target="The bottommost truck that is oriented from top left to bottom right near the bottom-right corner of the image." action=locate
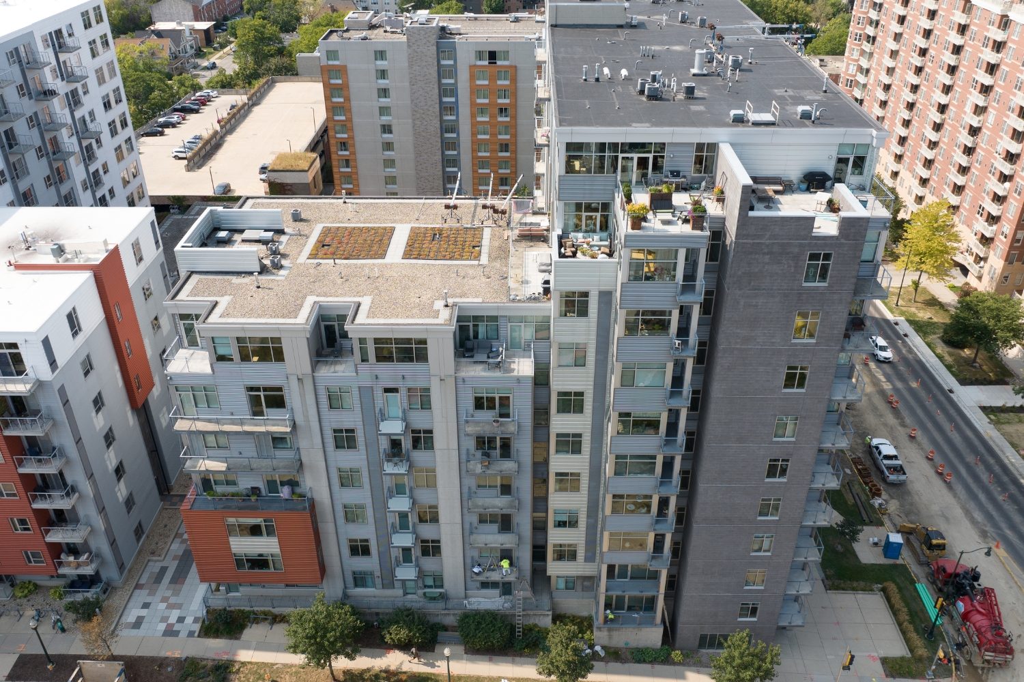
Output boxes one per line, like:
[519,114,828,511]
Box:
[916,554,1024,665]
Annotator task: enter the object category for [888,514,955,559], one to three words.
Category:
work vehicle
